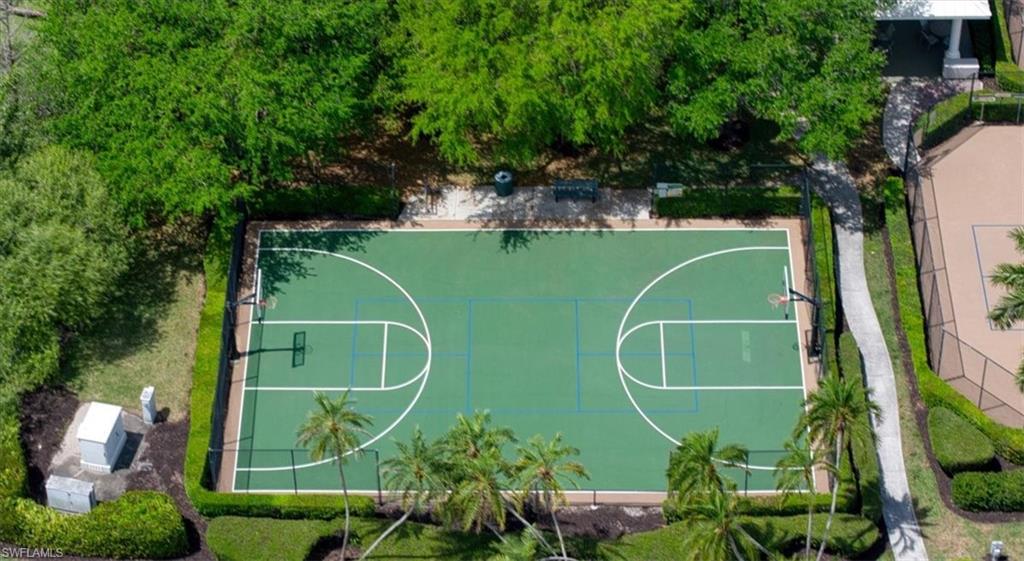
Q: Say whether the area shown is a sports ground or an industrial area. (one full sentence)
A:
It's a sports ground.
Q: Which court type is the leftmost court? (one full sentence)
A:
The leftmost court in the image is a basketball court.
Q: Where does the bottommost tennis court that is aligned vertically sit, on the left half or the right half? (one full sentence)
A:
You can find the bottommost tennis court that is aligned vertically on the right side of the picture.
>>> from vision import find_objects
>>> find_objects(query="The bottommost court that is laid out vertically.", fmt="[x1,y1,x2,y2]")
[906,120,1024,428]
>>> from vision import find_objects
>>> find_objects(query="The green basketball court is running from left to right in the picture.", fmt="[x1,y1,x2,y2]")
[219,218,828,505]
